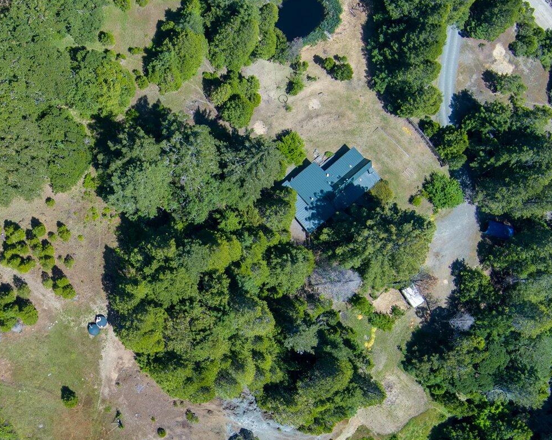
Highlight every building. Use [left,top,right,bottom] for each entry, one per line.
[286,146,381,234]
[397,284,424,307]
